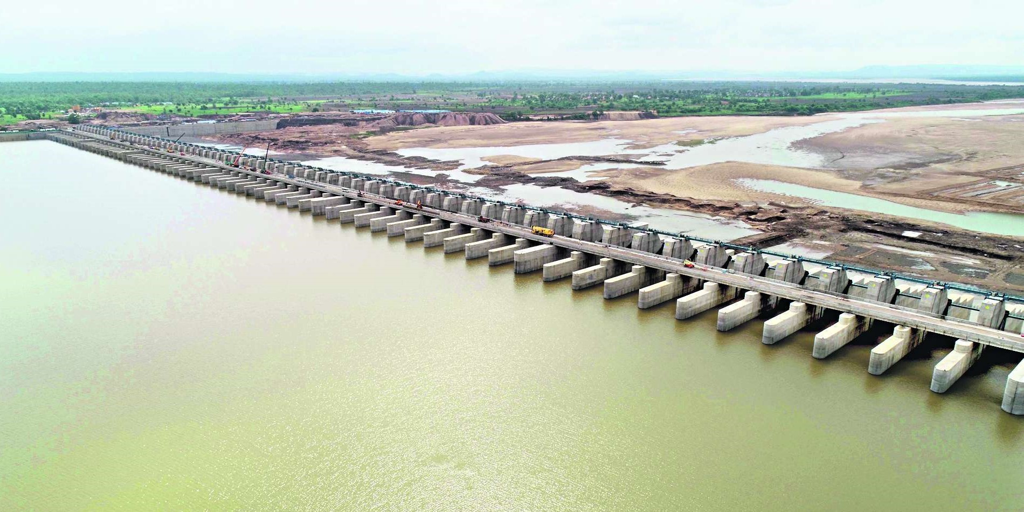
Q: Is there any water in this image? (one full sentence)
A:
Yes, water shows up in the scene.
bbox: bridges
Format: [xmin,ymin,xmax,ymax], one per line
[64,129,1024,352]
